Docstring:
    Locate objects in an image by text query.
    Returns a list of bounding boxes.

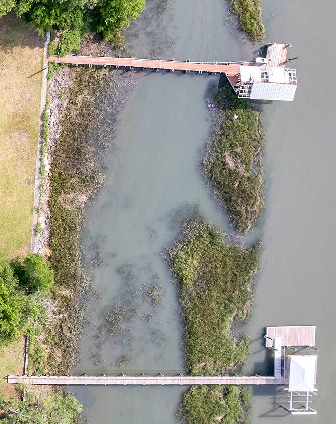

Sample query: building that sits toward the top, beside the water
[225,66,298,103]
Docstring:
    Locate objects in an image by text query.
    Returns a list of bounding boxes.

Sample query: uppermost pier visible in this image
[265,43,288,70]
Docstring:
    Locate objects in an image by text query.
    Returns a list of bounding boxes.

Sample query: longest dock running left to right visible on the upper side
[48,55,288,95]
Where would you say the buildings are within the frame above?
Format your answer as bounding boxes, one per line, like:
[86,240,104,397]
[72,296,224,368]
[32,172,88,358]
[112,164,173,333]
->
[288,355,326,395]
[225,66,298,103]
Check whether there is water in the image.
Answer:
Yes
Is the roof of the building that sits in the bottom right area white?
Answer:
Yes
